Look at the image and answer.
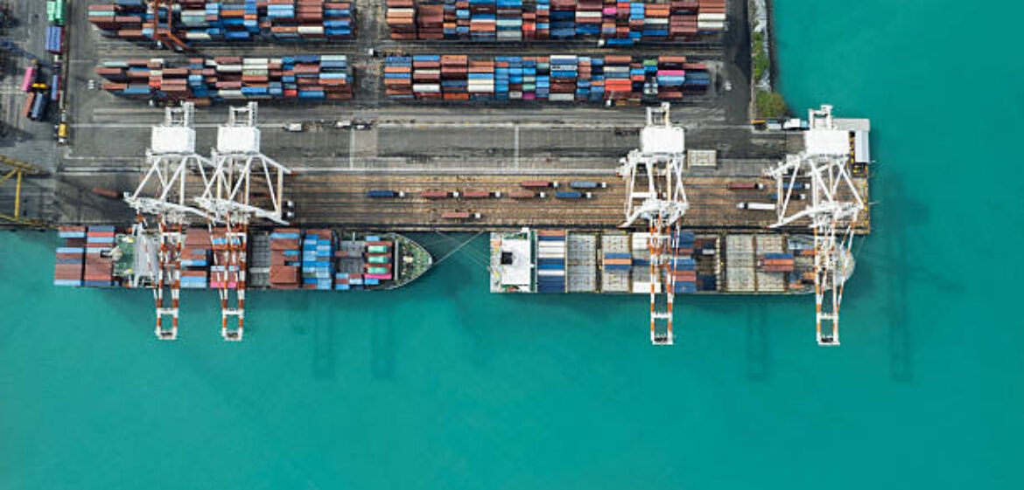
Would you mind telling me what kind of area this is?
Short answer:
port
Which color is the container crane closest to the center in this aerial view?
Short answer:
white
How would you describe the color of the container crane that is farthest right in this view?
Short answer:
white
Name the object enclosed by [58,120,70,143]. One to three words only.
vehicle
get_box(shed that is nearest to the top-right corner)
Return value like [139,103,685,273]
[856,130,873,162]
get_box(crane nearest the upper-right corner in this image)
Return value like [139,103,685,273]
[759,106,869,346]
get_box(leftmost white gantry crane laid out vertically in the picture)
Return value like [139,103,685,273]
[128,101,244,341]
